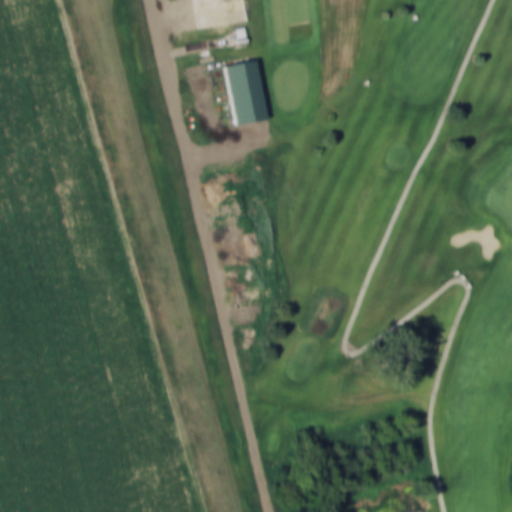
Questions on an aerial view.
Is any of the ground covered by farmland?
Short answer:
Yes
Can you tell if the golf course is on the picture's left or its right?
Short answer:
right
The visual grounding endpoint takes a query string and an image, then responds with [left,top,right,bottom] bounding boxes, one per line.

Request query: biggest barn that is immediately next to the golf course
[224,61,269,125]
